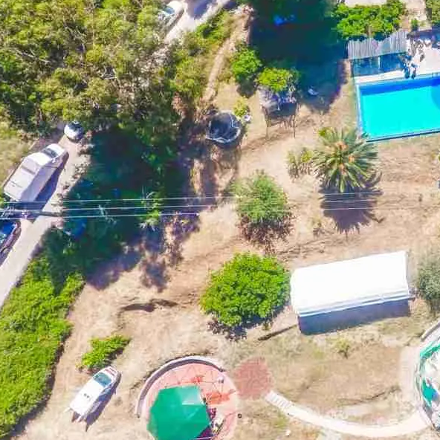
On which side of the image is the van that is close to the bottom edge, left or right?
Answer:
left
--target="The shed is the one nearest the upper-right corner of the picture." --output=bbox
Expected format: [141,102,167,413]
[347,34,412,81]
